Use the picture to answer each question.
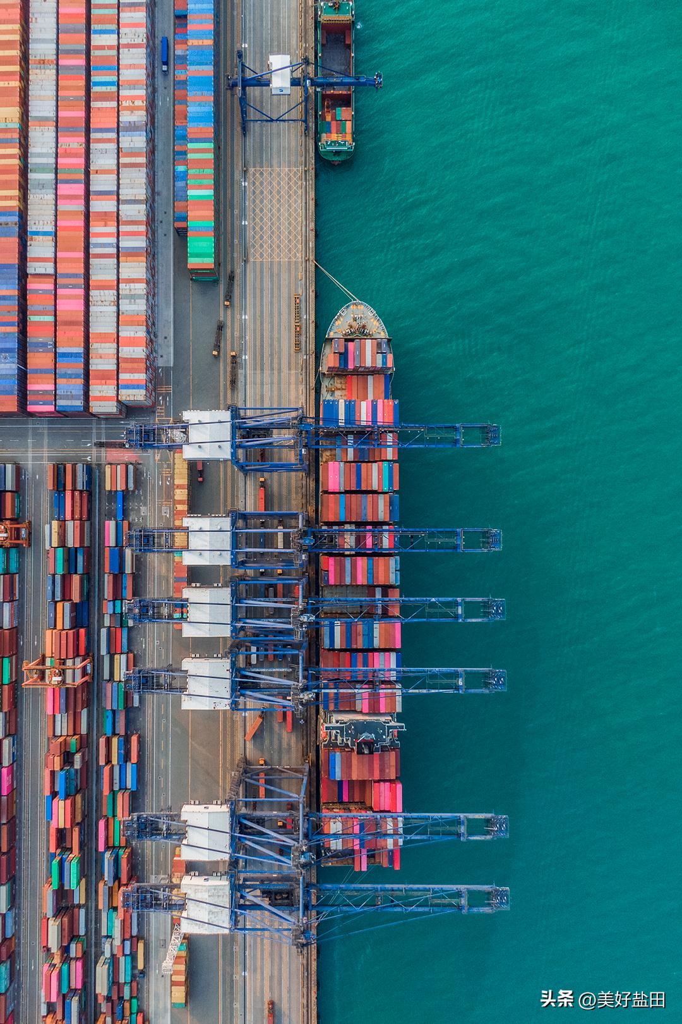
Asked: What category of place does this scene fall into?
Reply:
port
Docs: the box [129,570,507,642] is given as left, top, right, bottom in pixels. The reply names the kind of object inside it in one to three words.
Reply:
container crane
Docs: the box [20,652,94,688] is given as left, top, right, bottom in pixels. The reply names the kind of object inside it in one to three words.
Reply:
container crane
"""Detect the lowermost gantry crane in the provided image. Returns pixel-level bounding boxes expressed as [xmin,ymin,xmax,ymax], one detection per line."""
[123,819,510,948]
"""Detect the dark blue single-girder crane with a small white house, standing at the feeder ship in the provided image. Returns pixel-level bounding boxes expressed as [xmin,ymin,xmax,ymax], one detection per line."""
[224,45,383,143]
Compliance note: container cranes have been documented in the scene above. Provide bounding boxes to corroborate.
[224,45,383,143]
[129,502,503,572]
[127,628,507,713]
[20,652,94,688]
[123,819,510,948]
[129,570,507,642]
[0,519,29,548]
[126,750,509,870]
[127,398,502,485]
